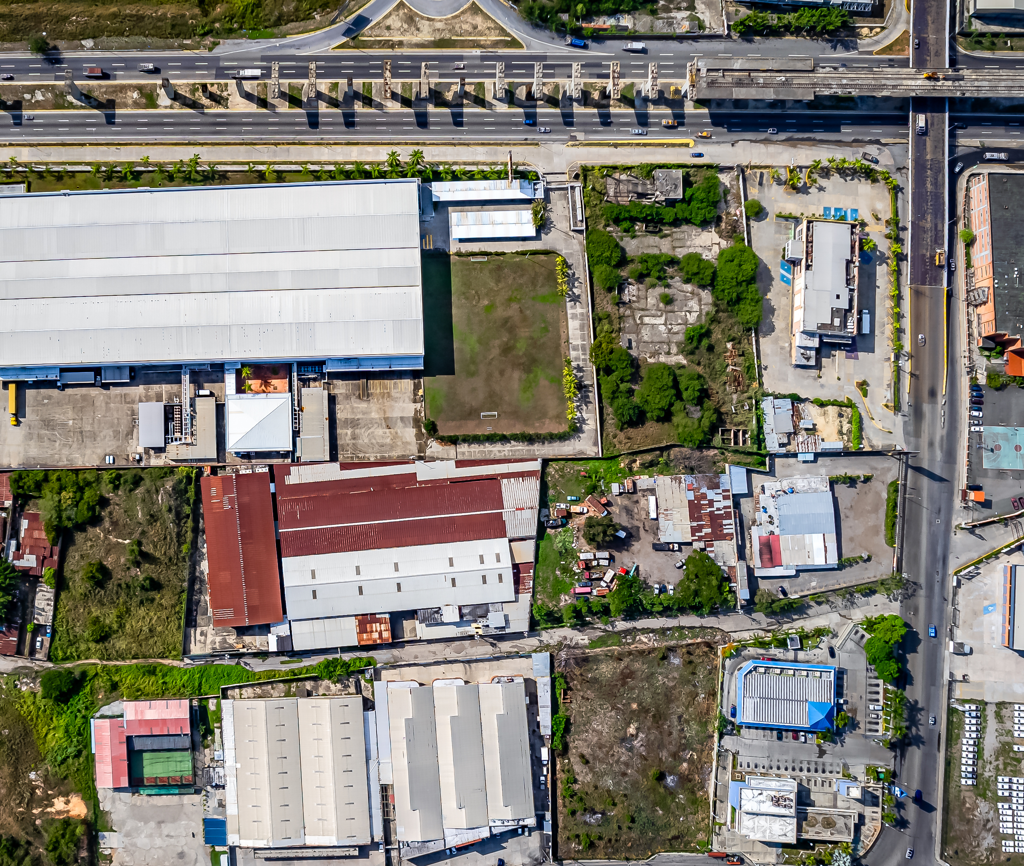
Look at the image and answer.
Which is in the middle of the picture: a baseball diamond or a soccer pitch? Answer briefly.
soccer pitch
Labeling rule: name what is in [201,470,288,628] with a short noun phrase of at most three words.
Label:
building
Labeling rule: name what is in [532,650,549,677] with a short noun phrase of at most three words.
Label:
shed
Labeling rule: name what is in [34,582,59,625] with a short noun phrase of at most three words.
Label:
house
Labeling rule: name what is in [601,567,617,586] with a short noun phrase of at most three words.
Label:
vehicle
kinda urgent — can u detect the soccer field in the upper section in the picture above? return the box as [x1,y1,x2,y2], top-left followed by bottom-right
[424,251,574,433]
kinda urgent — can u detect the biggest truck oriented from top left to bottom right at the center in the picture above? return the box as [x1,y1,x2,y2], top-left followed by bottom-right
[584,494,607,516]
